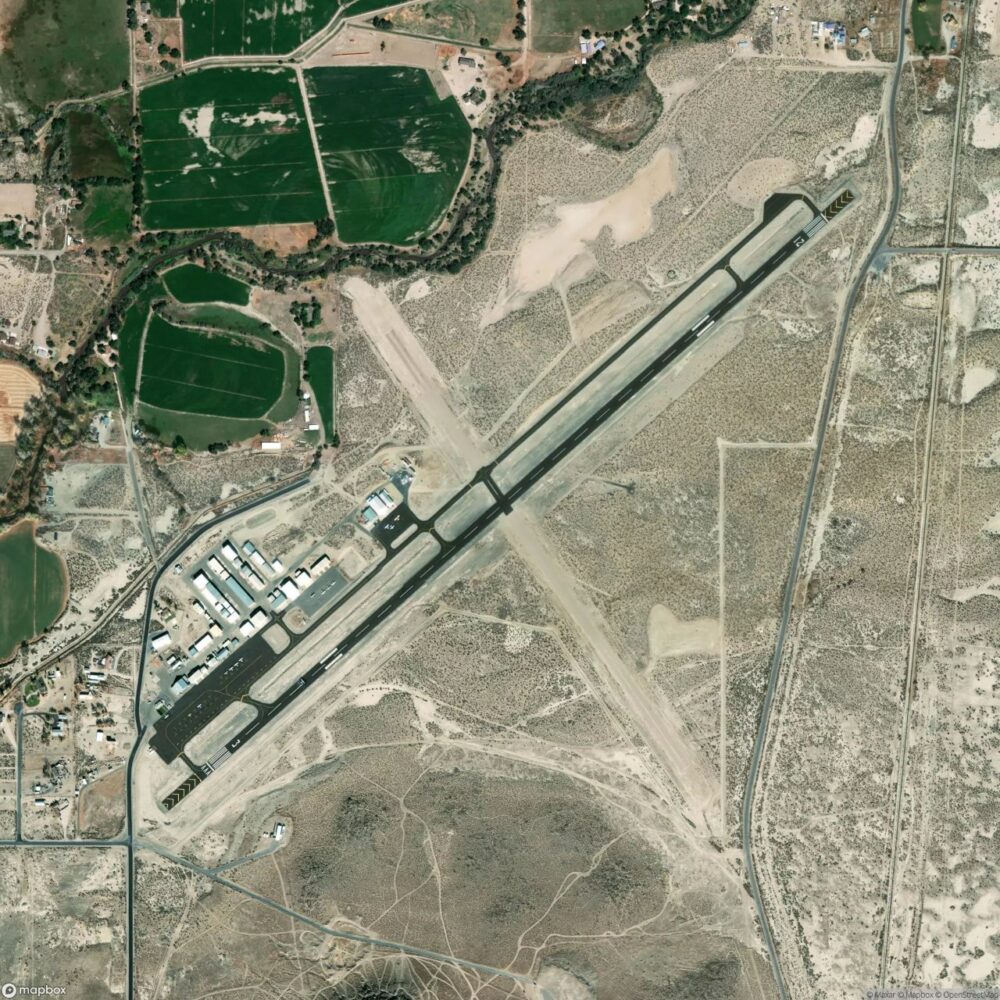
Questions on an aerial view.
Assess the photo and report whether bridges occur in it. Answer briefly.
No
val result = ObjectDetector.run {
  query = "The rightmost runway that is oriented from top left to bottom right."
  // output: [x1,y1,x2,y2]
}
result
[505,511,724,835]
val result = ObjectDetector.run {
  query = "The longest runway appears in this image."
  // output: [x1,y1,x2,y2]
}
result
[194,212,830,781]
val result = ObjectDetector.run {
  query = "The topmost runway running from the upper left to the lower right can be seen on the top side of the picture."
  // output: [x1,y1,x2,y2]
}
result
[342,277,483,480]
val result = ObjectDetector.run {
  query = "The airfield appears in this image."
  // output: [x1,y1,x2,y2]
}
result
[149,189,855,835]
